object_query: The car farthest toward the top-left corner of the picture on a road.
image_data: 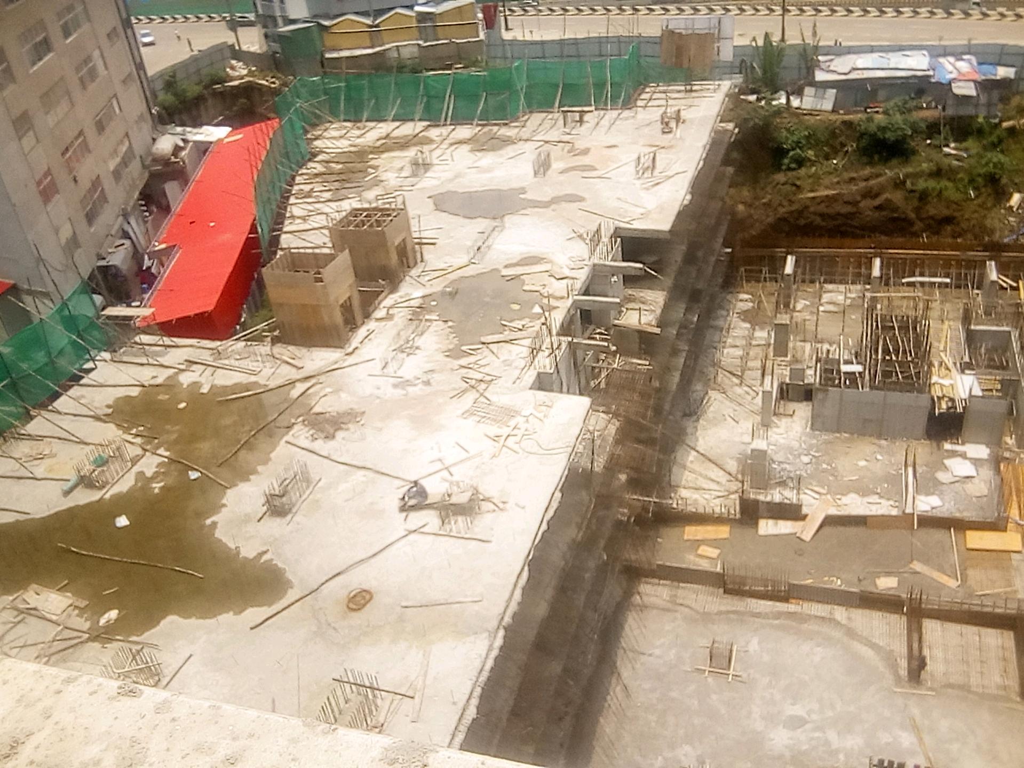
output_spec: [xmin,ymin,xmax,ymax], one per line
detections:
[138,32,154,47]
